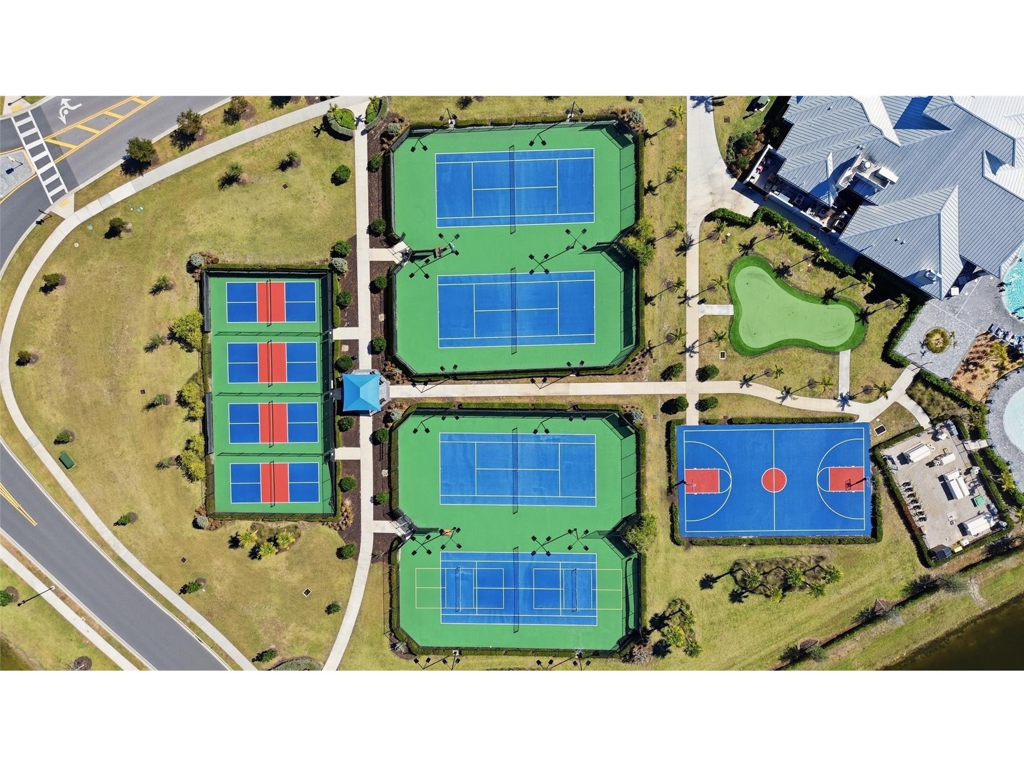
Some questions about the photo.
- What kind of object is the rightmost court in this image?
basketball court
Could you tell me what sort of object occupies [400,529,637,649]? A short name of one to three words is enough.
tennis court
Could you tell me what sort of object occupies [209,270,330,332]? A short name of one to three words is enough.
sports court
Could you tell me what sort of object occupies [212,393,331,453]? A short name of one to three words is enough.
sports court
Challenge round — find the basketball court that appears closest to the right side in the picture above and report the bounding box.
[676,423,871,537]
